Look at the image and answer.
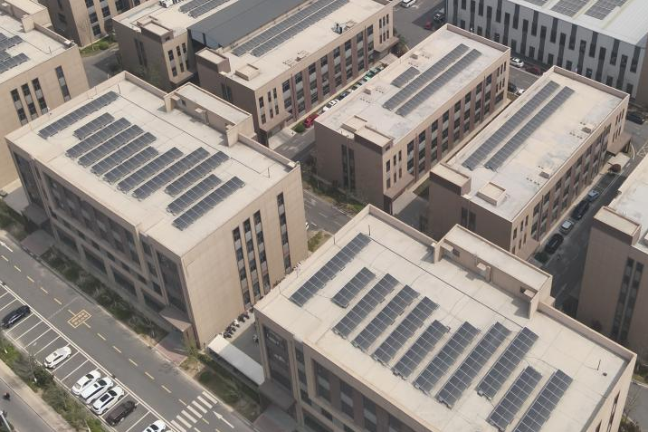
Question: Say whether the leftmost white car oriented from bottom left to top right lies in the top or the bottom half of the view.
bottom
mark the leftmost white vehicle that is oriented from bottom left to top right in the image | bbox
[42,345,73,370]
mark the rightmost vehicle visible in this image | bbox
[626,111,647,125]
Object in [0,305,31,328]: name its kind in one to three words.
car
